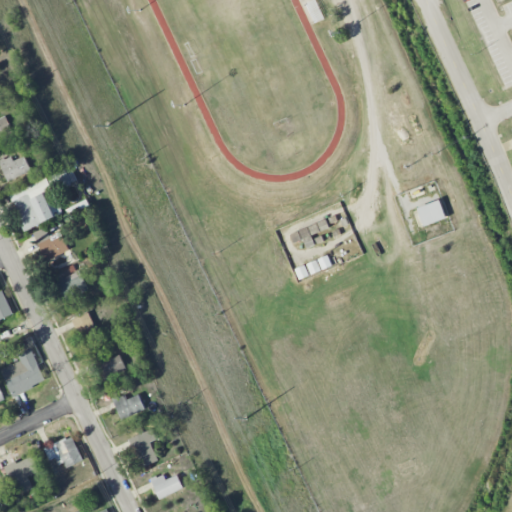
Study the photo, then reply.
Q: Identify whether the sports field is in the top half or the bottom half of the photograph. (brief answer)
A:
top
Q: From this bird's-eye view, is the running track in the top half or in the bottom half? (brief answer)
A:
top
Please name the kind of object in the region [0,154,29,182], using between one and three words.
house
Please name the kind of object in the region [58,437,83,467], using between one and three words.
house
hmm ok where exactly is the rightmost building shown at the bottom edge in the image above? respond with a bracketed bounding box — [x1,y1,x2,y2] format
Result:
[150,474,180,500]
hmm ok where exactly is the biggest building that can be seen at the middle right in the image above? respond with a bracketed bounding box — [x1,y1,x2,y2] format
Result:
[416,198,448,227]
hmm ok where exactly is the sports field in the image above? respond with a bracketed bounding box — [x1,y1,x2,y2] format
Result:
[157,0,339,176]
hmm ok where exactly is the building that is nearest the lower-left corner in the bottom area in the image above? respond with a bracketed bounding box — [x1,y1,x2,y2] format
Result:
[5,453,34,482]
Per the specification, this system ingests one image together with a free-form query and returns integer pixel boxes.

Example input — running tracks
[150,0,344,182]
